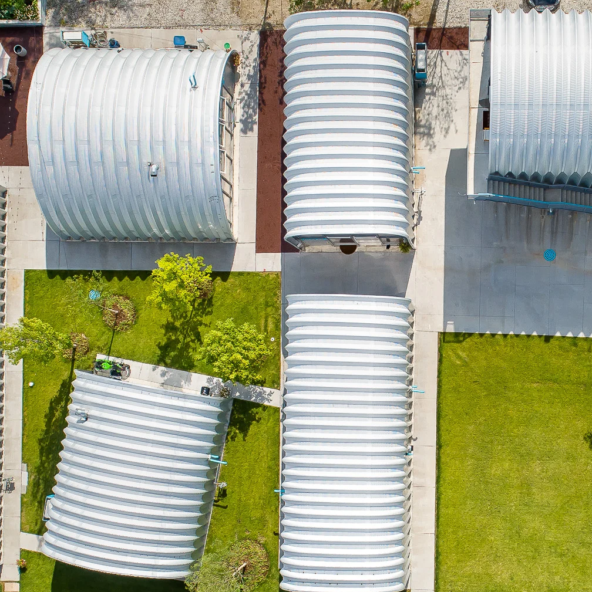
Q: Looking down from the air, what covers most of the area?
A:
buildings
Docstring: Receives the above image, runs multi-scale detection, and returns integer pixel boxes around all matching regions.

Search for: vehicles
[92,361,129,378]
[527,0,559,8]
